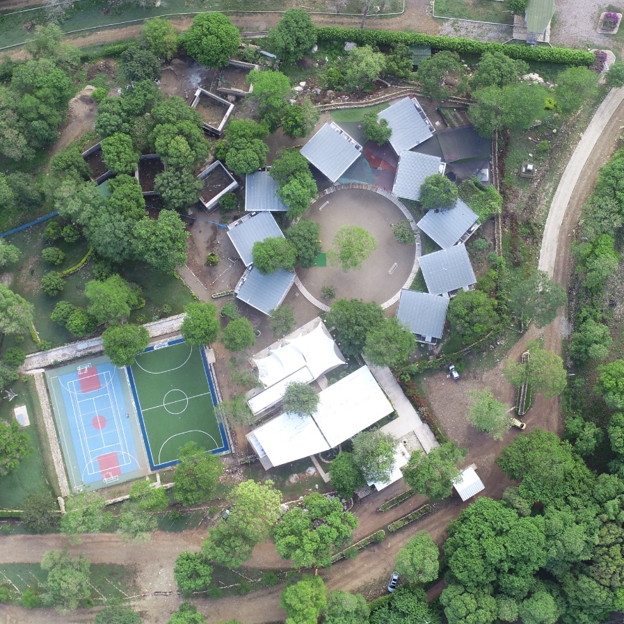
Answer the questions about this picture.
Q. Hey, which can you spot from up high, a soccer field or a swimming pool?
soccer field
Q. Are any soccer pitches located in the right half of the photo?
No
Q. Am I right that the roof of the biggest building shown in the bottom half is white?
Yes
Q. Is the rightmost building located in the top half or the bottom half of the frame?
top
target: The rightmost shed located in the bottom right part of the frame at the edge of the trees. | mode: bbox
[454,461,485,501]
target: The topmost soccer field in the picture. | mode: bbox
[127,336,229,473]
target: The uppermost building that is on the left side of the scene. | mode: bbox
[216,60,260,95]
